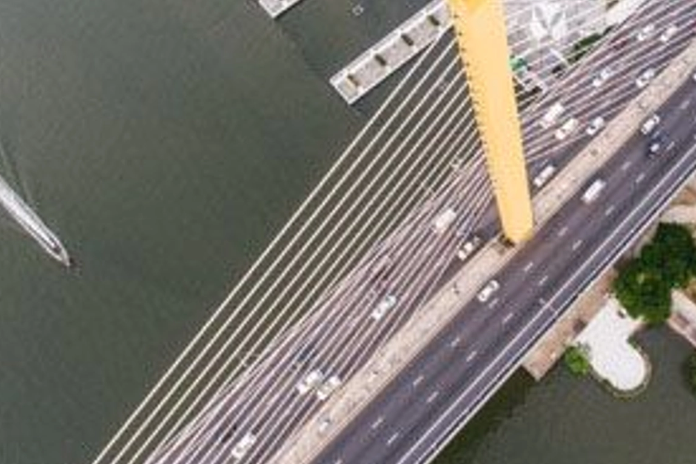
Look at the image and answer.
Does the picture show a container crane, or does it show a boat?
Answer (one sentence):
This aerial view contains a boat.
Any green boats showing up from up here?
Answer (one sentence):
No, I can see no green boat in this picture.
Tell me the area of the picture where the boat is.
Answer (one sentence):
You can find the boat in the left area of the picture.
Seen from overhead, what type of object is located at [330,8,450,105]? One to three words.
pier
